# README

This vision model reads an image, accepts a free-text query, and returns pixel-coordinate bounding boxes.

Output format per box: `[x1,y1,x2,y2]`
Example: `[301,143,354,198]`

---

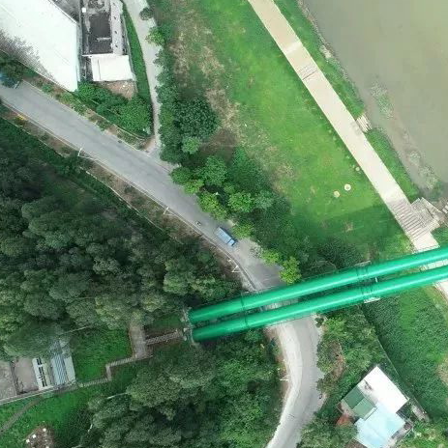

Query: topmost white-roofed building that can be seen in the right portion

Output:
[359,364,408,412]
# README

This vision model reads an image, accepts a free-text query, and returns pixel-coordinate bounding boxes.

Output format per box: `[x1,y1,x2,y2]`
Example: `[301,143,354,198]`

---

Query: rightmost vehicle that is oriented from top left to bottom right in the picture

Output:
[209,226,235,247]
